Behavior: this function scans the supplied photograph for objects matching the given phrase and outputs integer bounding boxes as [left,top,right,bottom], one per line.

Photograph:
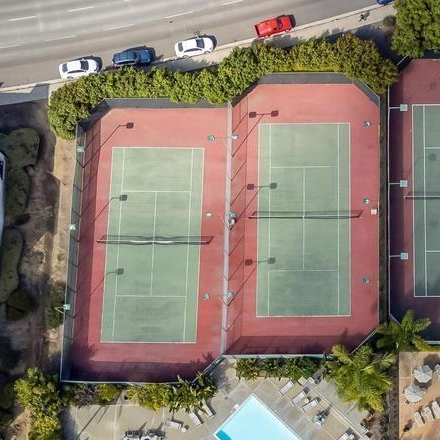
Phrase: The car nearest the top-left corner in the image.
[58,56,101,78]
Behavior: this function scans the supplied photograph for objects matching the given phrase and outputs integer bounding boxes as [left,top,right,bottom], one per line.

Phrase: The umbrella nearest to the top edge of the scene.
[412,363,434,385]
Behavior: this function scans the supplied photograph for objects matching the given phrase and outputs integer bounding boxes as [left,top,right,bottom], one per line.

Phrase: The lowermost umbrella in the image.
[403,382,426,405]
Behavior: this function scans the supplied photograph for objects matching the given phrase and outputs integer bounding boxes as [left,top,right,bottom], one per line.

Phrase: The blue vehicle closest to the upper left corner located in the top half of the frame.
[112,46,153,69]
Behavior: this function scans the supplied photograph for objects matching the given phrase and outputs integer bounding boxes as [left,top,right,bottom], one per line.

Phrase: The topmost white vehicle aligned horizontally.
[174,36,215,59]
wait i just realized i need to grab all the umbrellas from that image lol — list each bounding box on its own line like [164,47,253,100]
[403,382,426,405]
[412,363,434,385]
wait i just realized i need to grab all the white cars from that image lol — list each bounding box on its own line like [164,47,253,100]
[58,56,101,78]
[174,36,215,59]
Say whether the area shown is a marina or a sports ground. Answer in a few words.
sports ground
